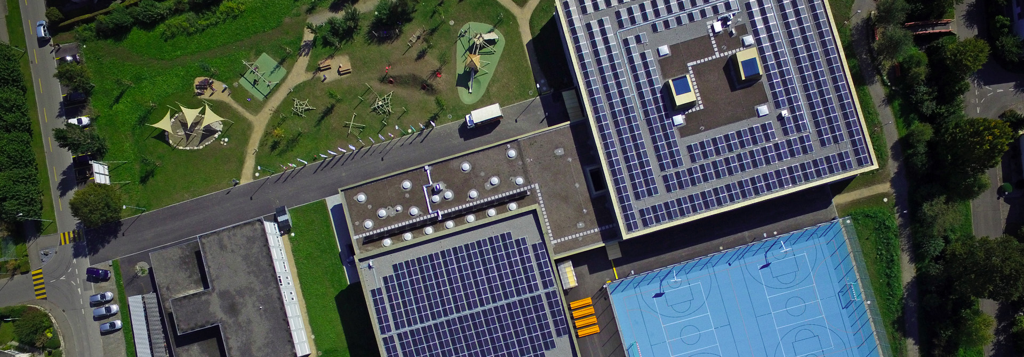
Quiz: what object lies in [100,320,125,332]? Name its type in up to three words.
vehicle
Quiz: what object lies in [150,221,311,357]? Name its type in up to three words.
building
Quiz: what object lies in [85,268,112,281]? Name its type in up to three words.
vehicle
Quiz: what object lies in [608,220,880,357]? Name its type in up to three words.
sports court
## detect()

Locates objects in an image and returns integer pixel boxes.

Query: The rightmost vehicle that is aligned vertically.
[343,245,357,268]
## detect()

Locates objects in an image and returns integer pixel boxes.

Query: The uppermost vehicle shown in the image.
[36,20,52,42]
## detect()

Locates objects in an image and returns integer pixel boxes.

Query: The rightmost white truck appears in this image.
[464,103,505,129]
